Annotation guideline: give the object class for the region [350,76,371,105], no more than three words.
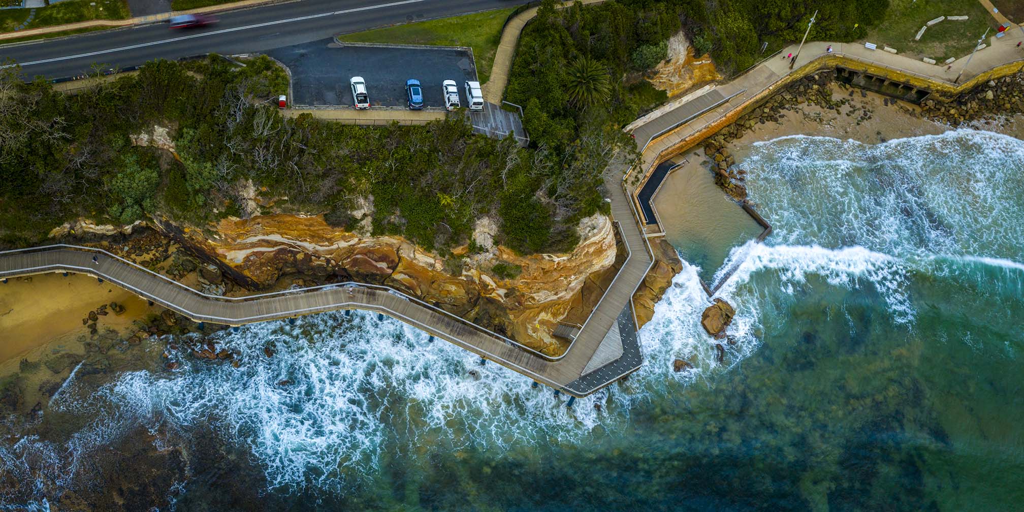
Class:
vehicle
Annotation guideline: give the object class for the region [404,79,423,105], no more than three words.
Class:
car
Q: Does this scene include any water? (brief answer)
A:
Yes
